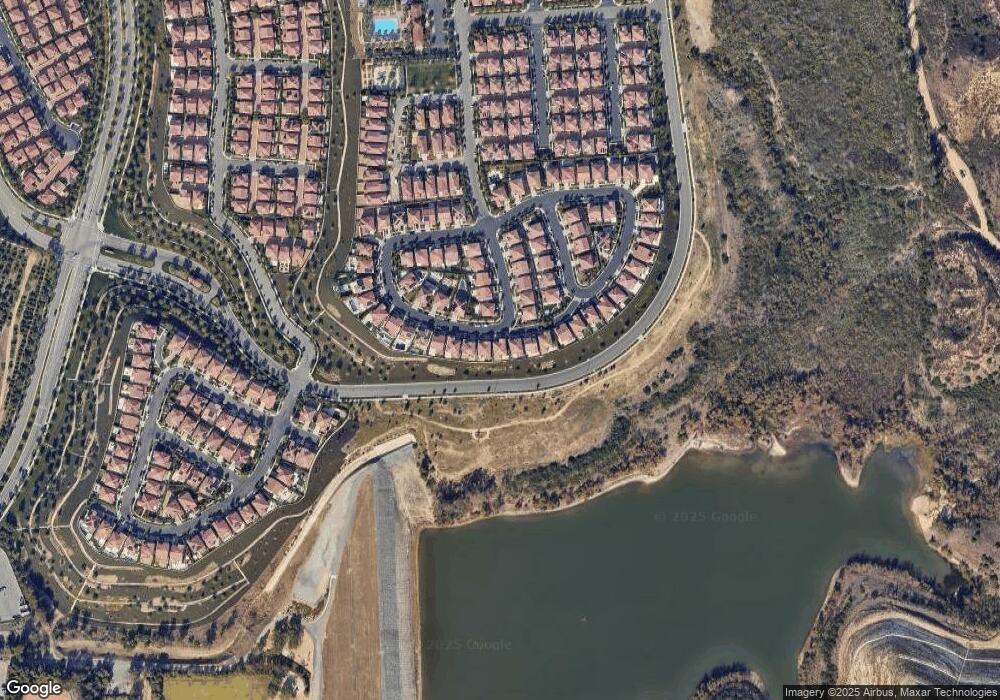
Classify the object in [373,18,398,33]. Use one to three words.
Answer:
swimming pool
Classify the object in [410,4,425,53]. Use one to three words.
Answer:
building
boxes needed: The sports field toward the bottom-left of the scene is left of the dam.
[164,673,263,700]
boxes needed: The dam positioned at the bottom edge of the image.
[323,456,417,700]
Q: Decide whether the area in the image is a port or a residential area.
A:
residential area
